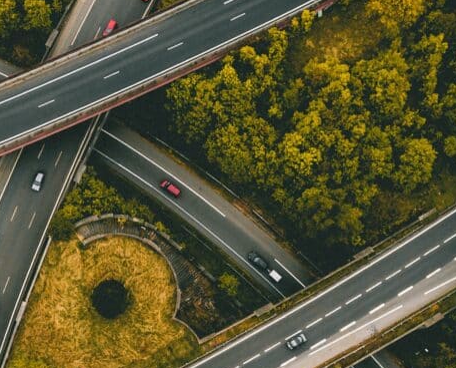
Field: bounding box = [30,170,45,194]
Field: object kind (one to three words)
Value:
car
